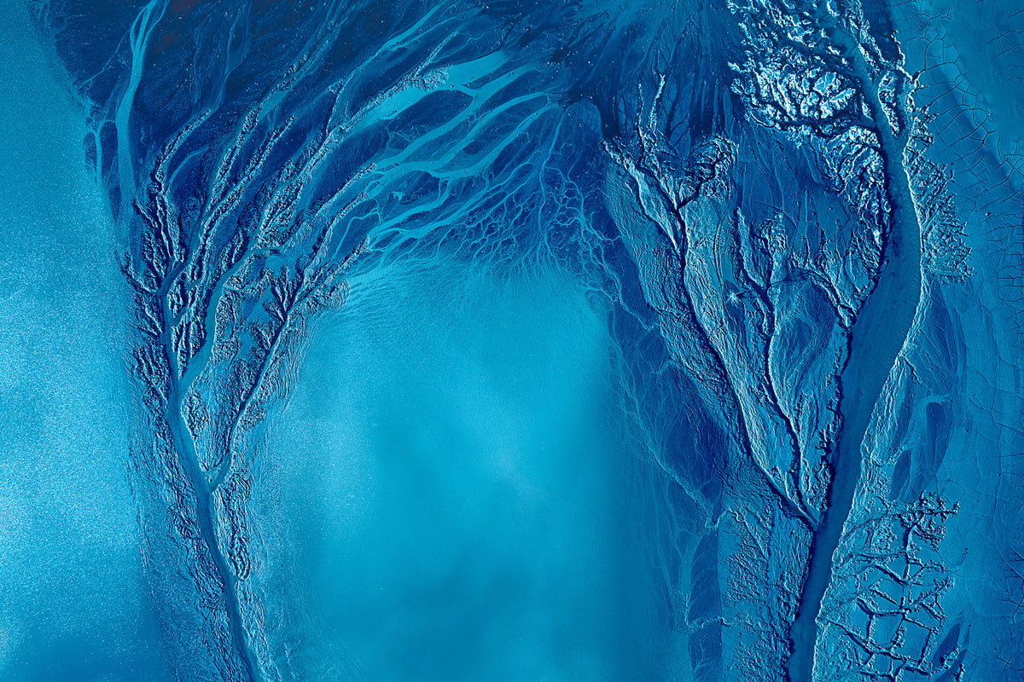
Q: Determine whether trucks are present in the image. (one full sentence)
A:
No, I can see no truck in this picture.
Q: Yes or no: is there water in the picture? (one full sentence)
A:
Yes, water shows up in the scene.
